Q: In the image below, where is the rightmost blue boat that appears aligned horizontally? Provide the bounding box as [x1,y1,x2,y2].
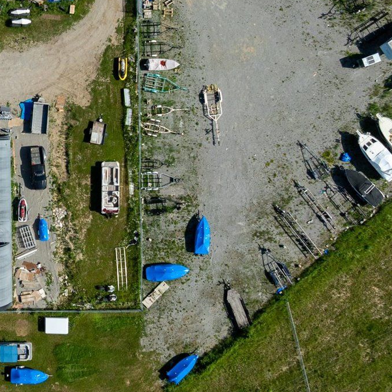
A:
[145,262,188,282]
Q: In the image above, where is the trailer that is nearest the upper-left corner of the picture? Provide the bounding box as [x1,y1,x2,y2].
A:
[35,94,54,134]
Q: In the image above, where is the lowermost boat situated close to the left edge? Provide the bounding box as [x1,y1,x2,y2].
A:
[6,367,50,384]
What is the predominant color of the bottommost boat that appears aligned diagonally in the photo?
blue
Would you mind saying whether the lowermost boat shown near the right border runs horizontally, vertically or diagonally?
diagonally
